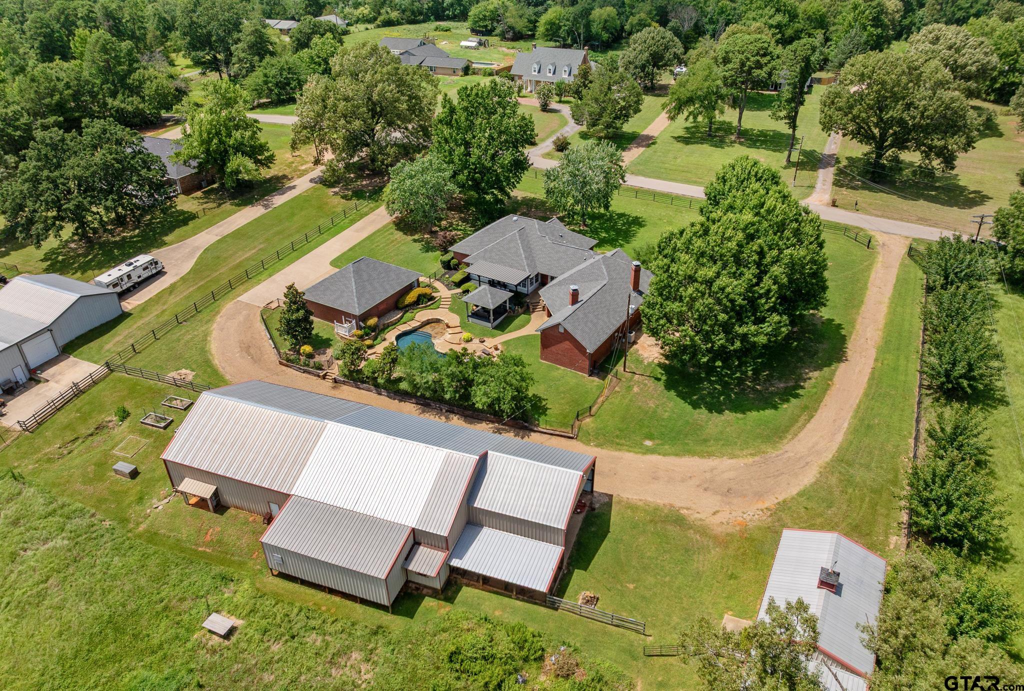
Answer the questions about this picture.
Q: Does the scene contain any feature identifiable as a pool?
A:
Yes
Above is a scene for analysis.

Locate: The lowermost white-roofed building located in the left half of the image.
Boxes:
[158,379,600,613]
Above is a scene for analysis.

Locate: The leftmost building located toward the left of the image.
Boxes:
[0,277,124,388]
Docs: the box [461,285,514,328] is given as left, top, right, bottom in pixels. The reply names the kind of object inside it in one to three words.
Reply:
gazebo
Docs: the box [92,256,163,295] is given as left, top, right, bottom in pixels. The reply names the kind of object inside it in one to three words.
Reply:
trailer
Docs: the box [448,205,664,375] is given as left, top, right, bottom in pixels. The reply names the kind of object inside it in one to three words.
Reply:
house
